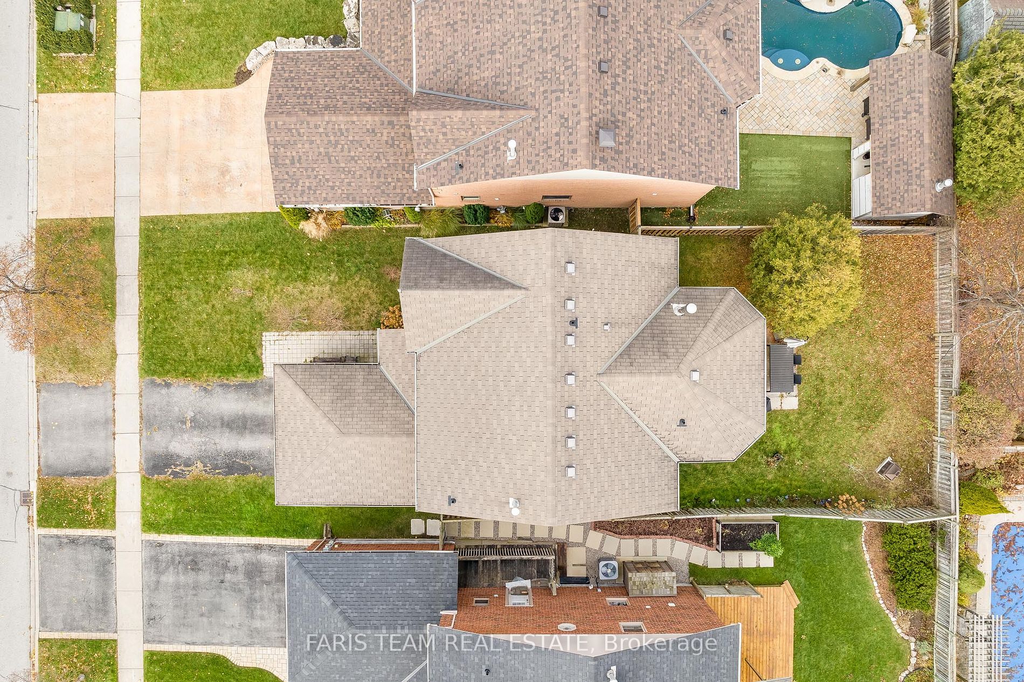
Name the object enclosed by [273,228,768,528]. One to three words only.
house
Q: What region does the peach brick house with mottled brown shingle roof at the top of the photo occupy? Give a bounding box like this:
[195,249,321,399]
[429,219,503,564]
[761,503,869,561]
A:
[264,0,762,224]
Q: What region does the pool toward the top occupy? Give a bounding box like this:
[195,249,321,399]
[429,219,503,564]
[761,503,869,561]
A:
[762,0,903,71]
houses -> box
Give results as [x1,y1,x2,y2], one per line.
[264,0,762,224]
[284,533,743,682]
[273,228,768,528]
